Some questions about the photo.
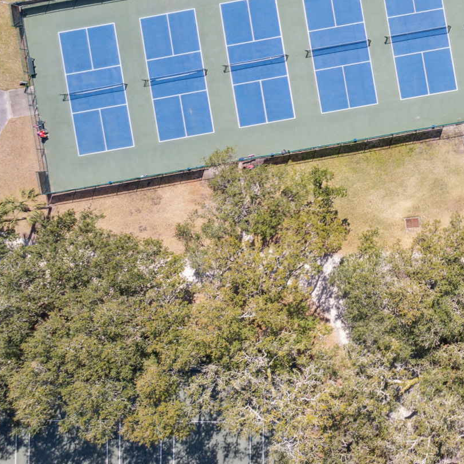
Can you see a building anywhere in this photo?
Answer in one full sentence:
No, no building can be seen from above.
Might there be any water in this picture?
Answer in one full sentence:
No, the scene doesn't show any water.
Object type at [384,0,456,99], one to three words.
sports court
